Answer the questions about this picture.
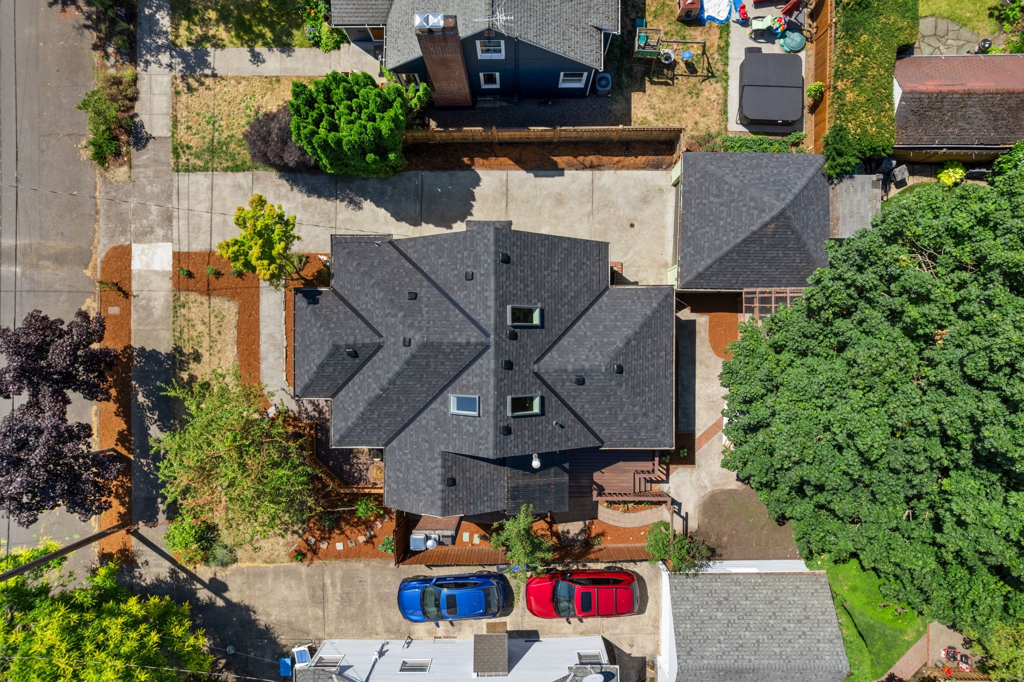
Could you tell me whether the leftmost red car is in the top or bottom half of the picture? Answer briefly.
bottom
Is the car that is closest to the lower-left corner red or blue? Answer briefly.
blue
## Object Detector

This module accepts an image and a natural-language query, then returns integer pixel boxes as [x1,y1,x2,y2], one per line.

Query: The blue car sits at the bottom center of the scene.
[398,572,507,630]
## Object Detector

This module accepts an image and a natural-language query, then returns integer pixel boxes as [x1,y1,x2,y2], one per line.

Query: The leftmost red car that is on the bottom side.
[527,569,639,627]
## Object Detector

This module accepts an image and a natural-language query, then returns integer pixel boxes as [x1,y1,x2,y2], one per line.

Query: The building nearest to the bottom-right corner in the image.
[655,552,850,682]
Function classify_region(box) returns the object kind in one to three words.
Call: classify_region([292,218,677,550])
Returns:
house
